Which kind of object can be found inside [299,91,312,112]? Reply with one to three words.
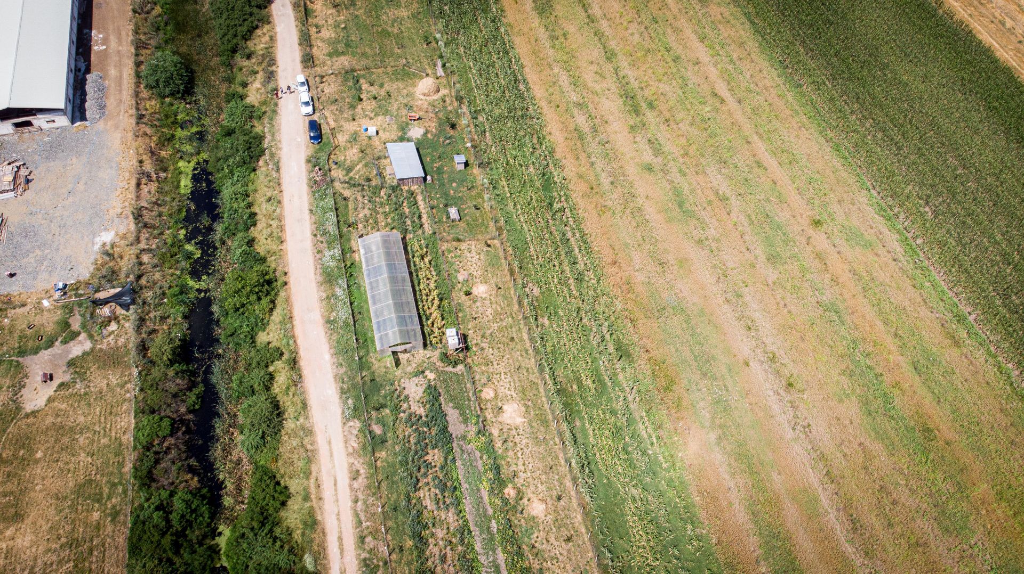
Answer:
vehicle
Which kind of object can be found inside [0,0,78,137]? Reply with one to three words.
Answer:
barn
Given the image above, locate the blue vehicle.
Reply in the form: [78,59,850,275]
[307,118,321,140]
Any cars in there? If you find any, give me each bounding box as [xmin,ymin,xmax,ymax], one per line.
[307,118,321,140]
[299,91,312,112]
[291,71,309,92]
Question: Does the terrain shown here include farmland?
Yes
